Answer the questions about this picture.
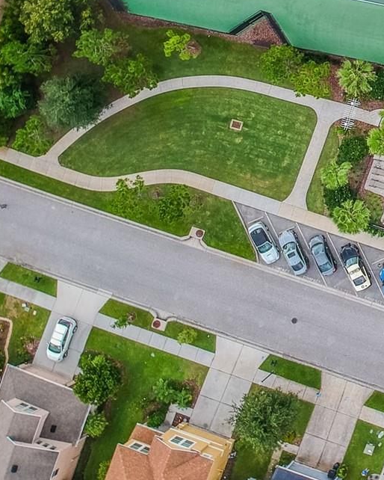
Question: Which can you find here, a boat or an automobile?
automobile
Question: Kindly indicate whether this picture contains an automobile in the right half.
Yes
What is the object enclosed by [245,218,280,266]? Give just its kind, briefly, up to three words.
car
